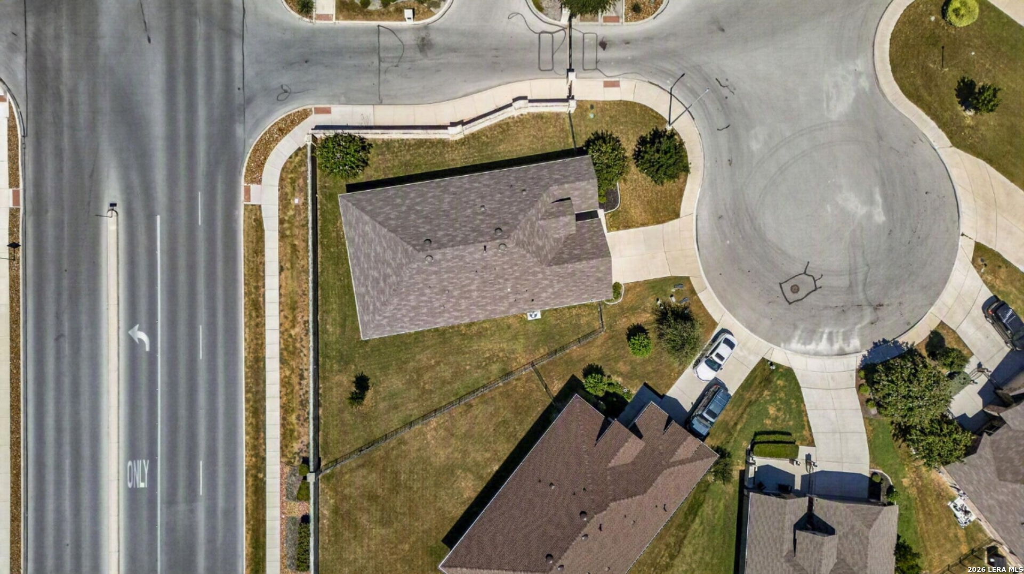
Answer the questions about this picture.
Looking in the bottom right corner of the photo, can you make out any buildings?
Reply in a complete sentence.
Yes, a building can be seen in the bottom right corner of the photo.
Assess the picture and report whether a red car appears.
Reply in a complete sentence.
No, there appears to be no red car in this shot.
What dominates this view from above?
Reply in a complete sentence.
For the most part, this view shows paved ground.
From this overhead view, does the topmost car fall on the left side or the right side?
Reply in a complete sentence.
The topmost car appears in the right half of the scene.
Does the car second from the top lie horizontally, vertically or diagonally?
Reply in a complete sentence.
In this picture, the car second from the top is oriented diagonally.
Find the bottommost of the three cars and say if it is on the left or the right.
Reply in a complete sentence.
The bottommost of the three cars appears in the right half of the scene.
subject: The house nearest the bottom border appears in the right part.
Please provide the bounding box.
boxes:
[739,489,898,574]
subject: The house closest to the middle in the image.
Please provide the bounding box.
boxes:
[339,153,613,340]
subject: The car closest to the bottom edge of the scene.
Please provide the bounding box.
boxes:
[687,385,735,439]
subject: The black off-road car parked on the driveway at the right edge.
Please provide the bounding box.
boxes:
[986,299,1024,354]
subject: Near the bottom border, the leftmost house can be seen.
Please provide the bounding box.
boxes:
[436,393,720,574]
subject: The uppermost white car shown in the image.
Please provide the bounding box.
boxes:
[695,328,741,381]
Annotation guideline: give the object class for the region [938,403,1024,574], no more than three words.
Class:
house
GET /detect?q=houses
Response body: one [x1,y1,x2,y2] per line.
[339,153,613,340]
[436,393,720,574]
[938,403,1024,574]
[739,489,898,574]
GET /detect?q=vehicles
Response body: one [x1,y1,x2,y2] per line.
[986,299,1024,354]
[687,385,735,439]
[695,328,741,381]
